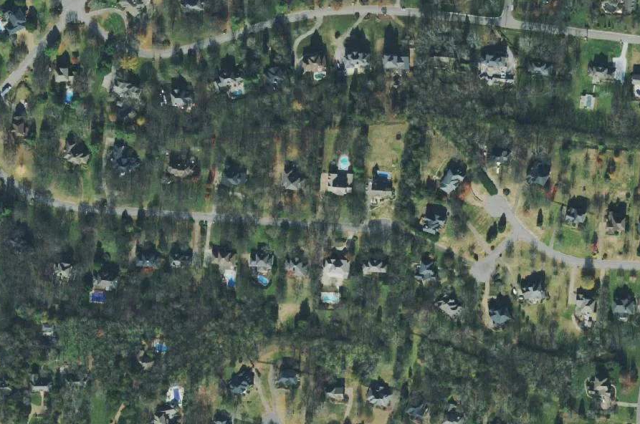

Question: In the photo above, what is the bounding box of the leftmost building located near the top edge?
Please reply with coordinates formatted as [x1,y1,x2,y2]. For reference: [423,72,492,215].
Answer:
[0,8,27,30]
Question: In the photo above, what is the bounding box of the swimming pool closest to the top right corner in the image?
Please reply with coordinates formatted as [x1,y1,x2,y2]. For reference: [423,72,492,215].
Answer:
[599,1,619,15]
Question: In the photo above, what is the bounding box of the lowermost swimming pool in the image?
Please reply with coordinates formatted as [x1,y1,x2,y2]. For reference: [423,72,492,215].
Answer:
[168,385,183,405]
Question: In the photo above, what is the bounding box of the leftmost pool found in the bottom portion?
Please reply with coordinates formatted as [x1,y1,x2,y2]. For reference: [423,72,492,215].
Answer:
[90,289,106,303]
